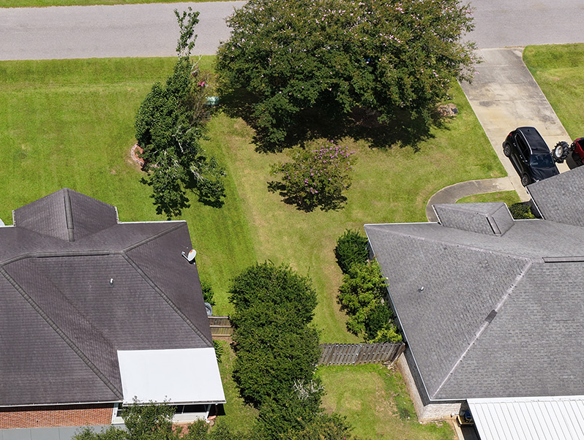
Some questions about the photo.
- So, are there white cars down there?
No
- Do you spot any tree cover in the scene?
Yes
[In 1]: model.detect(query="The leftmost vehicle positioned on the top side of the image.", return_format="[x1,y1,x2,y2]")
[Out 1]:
[506,127,567,187]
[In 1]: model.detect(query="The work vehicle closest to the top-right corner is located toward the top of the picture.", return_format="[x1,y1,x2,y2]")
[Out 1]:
[555,122,584,159]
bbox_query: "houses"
[0,187,224,434]
[365,163,584,424]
